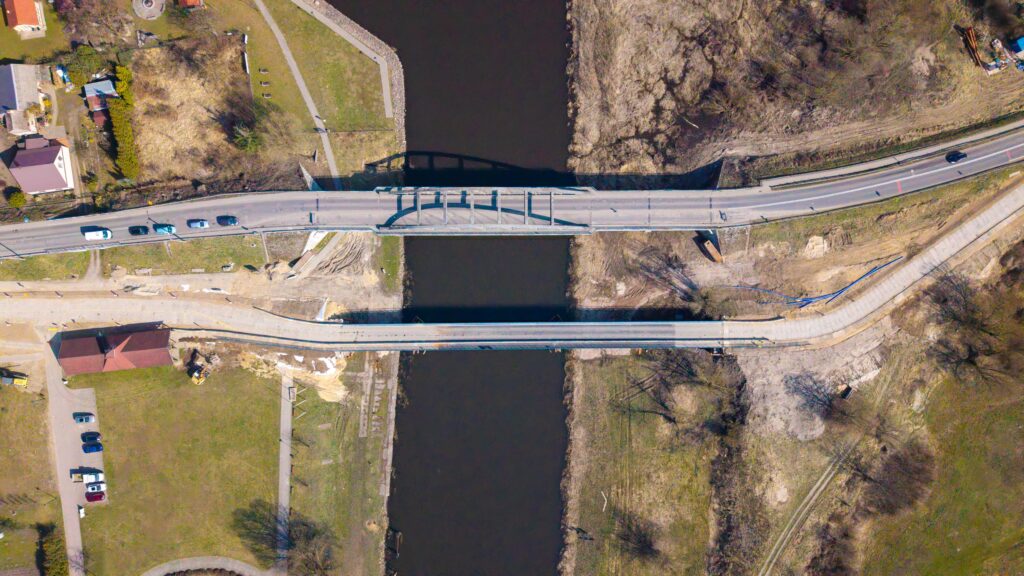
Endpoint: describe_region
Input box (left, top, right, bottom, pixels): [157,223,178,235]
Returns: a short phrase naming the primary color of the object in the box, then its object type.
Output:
blue vehicle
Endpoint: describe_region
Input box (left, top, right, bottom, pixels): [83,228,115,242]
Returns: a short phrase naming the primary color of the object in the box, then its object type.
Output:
white vehicle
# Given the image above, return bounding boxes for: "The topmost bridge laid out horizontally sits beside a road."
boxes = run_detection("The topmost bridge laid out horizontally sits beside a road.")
[299,157,723,255]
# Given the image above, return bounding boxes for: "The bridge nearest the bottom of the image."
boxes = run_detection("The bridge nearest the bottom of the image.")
[318,300,757,353]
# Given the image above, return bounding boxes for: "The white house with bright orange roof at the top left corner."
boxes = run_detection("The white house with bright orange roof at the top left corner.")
[3,0,50,39]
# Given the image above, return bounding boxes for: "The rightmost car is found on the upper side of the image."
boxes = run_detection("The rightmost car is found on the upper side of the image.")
[945,151,968,165]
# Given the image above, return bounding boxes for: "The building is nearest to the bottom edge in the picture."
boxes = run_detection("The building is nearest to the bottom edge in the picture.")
[56,326,180,378]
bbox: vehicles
[82,443,104,454]
[129,225,150,236]
[217,215,240,227]
[189,219,210,230]
[87,492,108,503]
[0,377,27,388]
[82,433,103,444]
[945,151,968,165]
[79,473,106,484]
[87,483,108,494]
[74,415,96,425]
[157,223,178,235]
[83,228,115,242]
